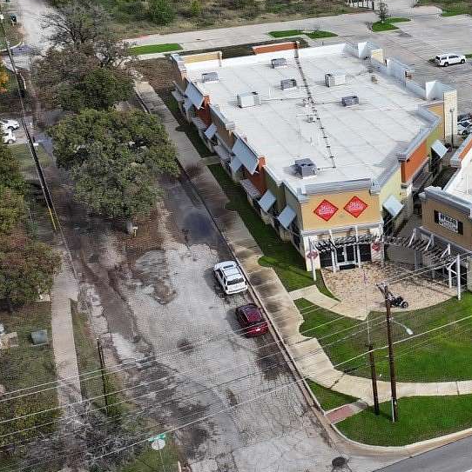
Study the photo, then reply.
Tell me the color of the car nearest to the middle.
white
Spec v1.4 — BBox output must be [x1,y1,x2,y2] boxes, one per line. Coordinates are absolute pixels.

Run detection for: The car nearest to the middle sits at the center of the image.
[214,262,248,294]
